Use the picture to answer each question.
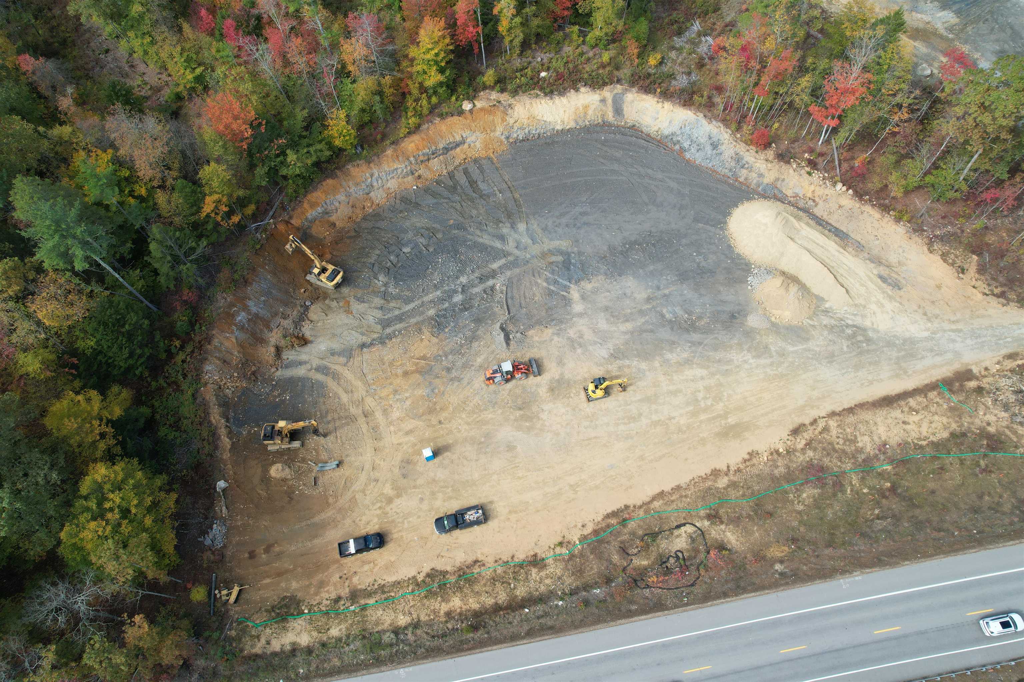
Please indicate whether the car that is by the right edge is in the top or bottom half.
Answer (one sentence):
Seen from above, the car that is by the right edge lies in the bottom half of the view.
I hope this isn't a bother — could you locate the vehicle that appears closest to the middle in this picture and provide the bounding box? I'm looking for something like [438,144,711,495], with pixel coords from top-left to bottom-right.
[484,357,543,387]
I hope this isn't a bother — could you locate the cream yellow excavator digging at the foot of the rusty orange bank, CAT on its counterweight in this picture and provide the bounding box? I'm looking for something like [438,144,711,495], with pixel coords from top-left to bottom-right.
[292,237,348,289]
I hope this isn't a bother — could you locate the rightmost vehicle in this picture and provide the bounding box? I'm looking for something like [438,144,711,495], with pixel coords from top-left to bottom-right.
[980,615,1024,639]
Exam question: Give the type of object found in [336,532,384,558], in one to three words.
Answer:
truck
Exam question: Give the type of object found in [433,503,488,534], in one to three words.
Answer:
truck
